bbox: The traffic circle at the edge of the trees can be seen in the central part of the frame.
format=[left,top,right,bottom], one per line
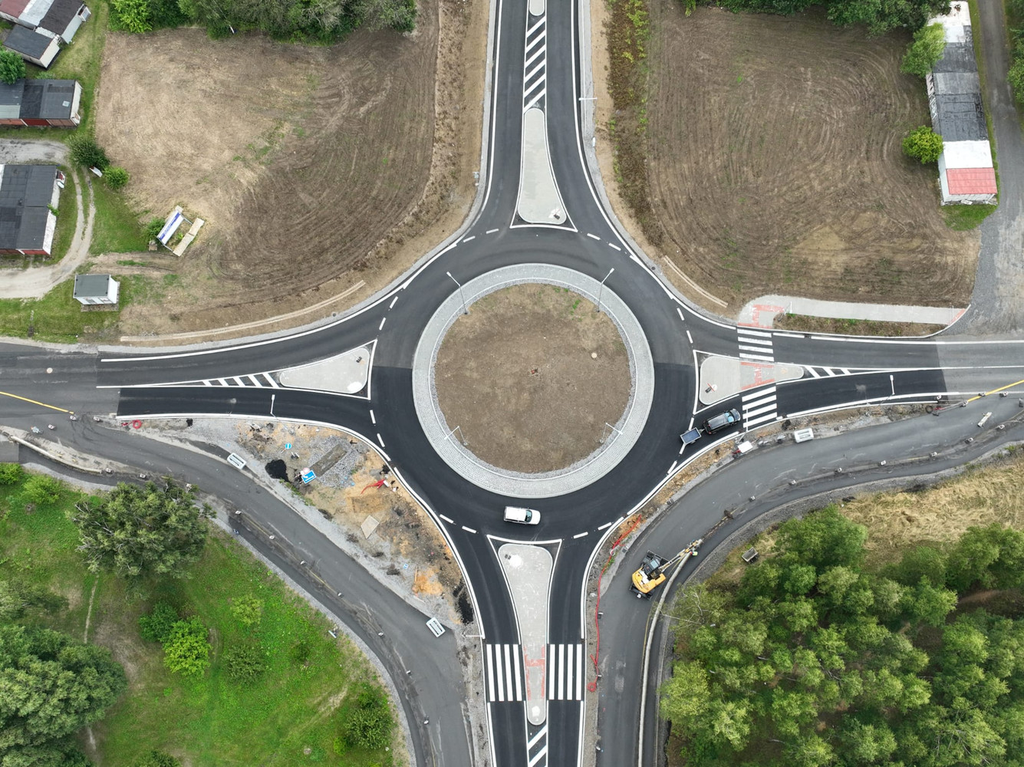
[371,231,696,546]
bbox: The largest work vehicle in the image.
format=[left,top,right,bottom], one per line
[629,536,704,602]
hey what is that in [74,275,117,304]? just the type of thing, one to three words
building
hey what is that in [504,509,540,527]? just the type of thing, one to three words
car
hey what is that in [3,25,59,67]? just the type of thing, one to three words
building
